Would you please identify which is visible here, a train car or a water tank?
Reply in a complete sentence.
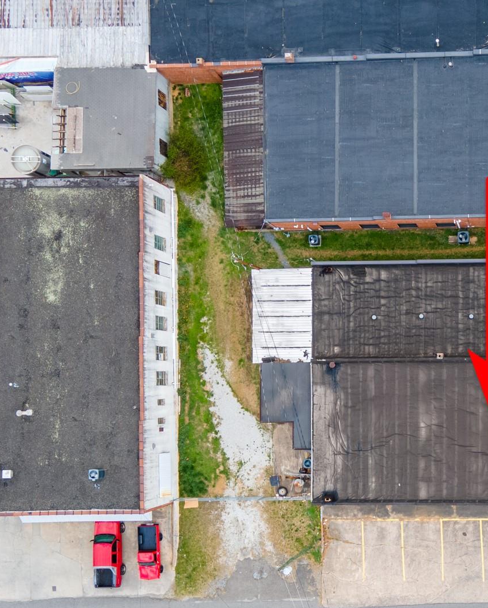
The image shows a water tank.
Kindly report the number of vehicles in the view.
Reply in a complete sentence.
There are 2 vehicles in the image.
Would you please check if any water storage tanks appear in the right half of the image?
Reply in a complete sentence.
No, I see no water storage tank in the right half of the image.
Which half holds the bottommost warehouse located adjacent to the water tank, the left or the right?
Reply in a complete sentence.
You can find the bottommost warehouse located adjacent to the water tank on the left side of the picture.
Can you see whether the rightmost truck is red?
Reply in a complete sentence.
Yes, the rightmost truck is red.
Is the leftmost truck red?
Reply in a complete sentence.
Yes, the leftmost truck appears red.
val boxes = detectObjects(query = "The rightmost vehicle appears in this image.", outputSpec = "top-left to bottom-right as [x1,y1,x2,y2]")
[133,522,166,583]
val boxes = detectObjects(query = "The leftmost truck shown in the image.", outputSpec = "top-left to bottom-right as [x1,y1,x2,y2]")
[89,521,127,590]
